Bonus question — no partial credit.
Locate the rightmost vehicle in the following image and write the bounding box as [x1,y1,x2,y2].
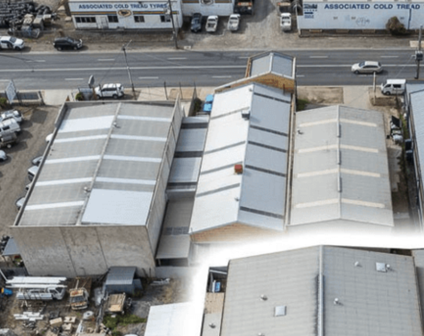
[377,80,410,97]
